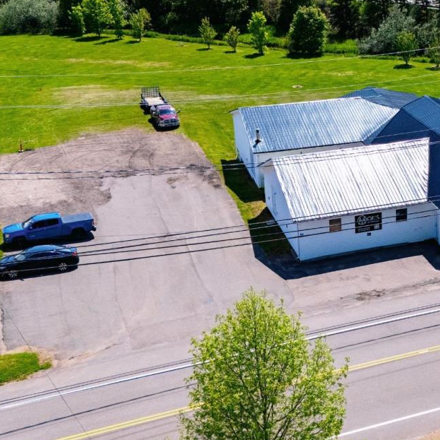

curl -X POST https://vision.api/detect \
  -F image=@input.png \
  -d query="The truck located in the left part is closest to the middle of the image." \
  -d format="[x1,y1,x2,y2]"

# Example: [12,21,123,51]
[149,100,178,128]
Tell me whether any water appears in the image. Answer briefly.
No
